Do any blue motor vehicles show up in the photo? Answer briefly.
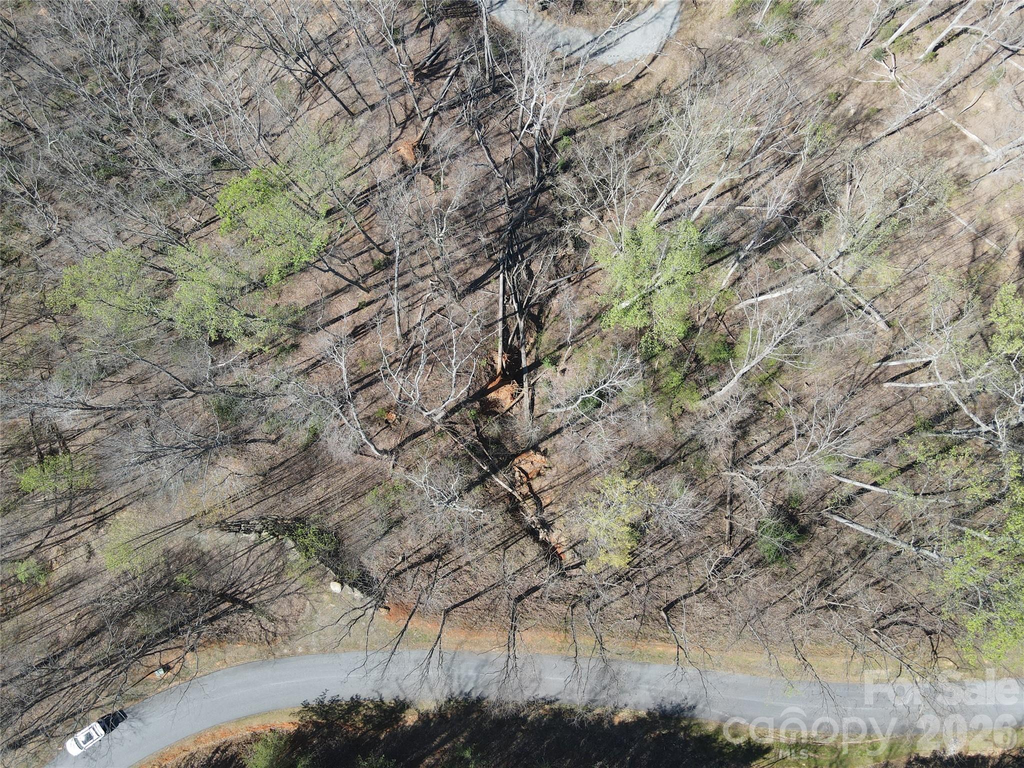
No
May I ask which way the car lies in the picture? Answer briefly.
at an angle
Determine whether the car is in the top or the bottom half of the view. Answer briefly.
bottom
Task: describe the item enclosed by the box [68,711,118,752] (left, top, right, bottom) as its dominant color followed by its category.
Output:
white car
